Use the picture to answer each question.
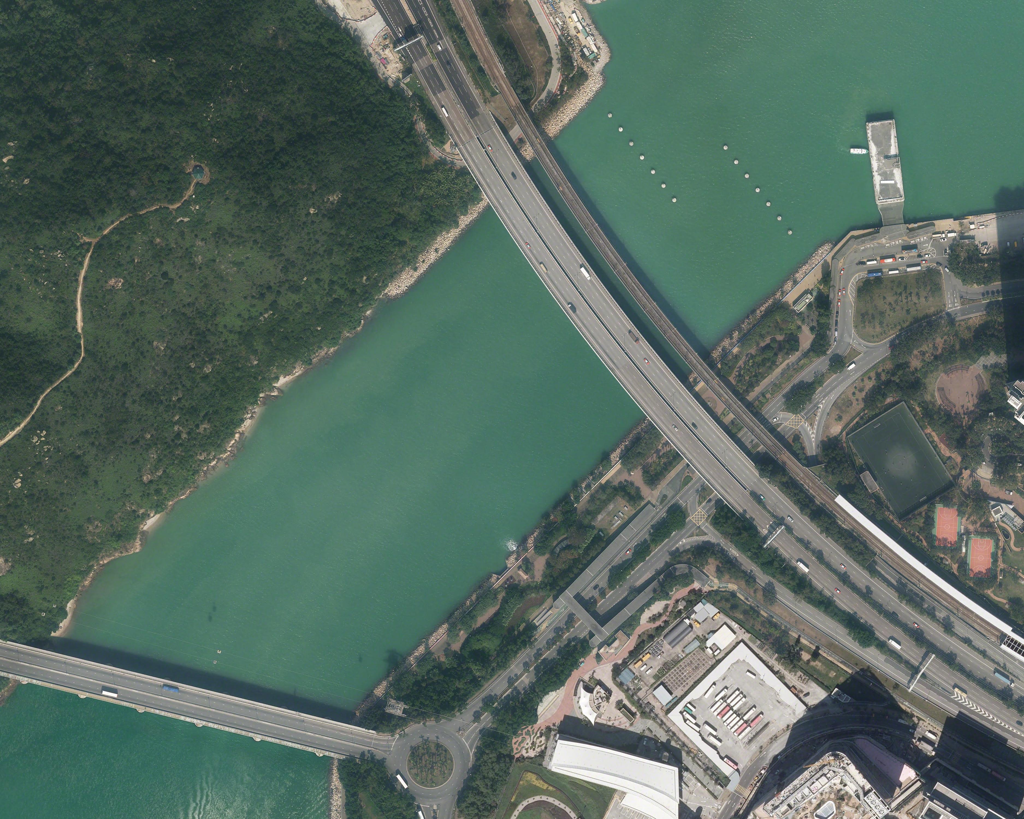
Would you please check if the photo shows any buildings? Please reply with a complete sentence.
Yes, the image includes a building.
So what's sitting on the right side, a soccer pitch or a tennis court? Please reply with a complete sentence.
There is a soccer pitch on the right side.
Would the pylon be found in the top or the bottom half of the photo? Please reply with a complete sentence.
You can find the pylon in the bottom half.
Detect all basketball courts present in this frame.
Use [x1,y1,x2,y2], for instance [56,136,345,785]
[967,535,997,580]
[932,504,962,547]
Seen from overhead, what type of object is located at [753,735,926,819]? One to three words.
building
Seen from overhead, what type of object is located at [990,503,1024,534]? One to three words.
building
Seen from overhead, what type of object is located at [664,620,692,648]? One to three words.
greenhouse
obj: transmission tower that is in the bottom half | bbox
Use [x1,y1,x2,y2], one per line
[383,695,409,718]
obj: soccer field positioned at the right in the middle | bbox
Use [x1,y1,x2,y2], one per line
[846,401,955,520]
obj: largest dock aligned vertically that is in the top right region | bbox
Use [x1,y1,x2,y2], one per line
[866,118,905,204]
